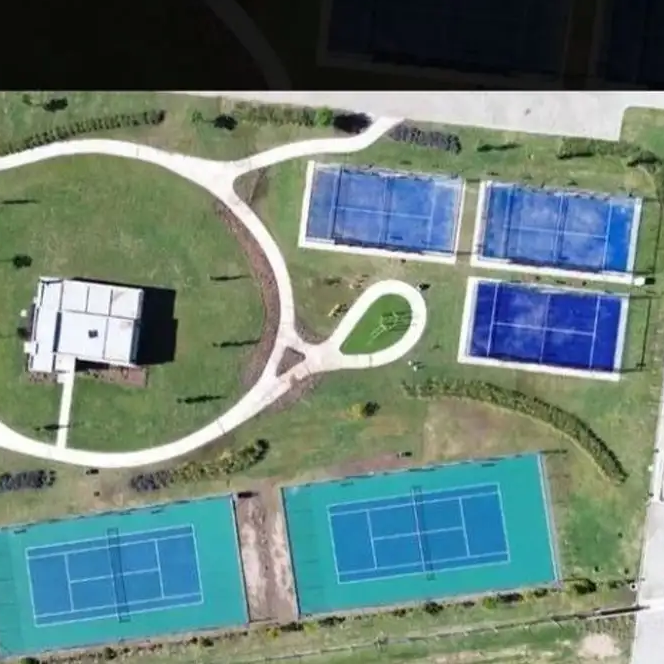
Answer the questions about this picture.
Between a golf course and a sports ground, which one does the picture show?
sports ground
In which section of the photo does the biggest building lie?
left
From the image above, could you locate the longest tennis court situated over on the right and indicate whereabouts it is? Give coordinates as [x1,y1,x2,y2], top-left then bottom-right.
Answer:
[278,450,566,618]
